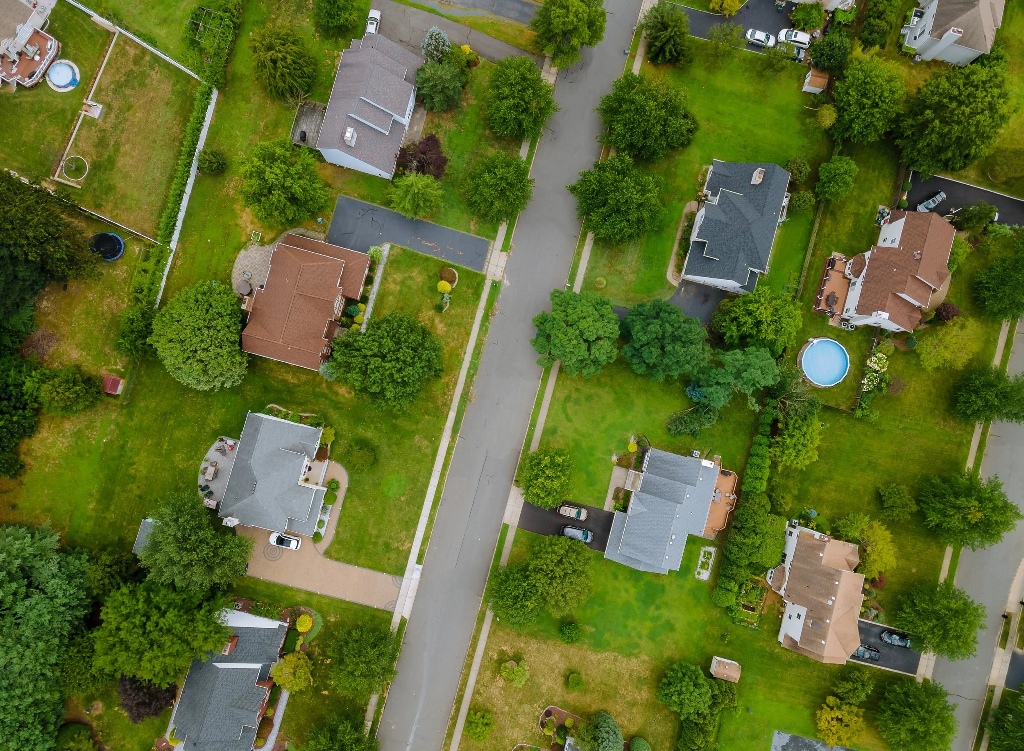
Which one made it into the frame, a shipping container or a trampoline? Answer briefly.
trampoline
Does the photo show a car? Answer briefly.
Yes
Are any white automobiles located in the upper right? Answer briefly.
Yes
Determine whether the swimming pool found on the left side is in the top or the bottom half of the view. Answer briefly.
top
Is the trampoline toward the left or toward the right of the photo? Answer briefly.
left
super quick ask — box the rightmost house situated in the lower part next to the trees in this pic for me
[762,525,870,663]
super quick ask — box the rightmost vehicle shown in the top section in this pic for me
[913,190,948,210]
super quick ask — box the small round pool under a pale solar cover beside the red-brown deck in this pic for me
[46,59,75,88]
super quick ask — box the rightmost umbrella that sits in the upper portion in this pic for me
[236,280,252,297]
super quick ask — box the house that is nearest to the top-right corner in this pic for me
[909,0,1008,69]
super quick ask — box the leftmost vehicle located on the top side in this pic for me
[364,9,382,34]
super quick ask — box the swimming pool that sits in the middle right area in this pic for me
[804,338,853,385]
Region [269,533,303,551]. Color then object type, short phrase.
white car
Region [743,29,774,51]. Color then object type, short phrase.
white car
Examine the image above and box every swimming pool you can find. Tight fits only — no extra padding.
[46,59,75,88]
[804,338,853,385]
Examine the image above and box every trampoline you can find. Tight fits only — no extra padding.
[91,230,126,262]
